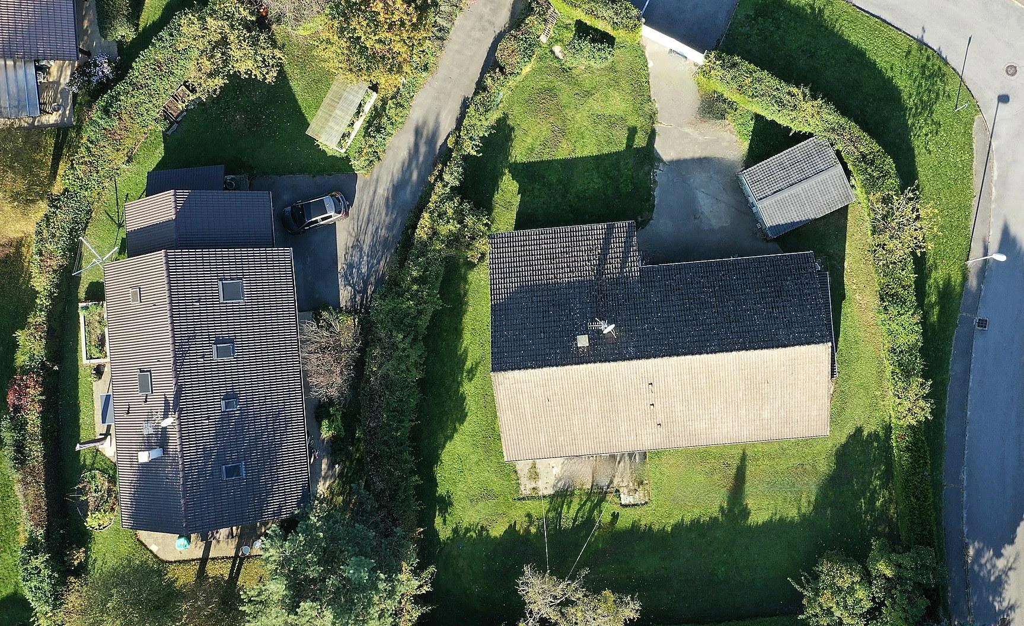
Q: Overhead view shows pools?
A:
No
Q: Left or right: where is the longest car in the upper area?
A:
left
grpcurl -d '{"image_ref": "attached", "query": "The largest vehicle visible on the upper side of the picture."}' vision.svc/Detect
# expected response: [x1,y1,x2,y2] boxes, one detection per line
[282,192,347,232]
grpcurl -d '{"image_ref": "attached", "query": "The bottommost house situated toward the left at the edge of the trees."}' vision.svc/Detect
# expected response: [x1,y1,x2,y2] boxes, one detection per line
[102,248,318,534]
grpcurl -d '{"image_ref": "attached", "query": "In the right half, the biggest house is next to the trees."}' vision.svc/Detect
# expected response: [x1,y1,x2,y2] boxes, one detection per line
[489,220,831,463]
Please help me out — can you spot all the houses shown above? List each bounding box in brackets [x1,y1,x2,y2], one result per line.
[0,0,91,69]
[102,248,318,534]
[489,220,831,463]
